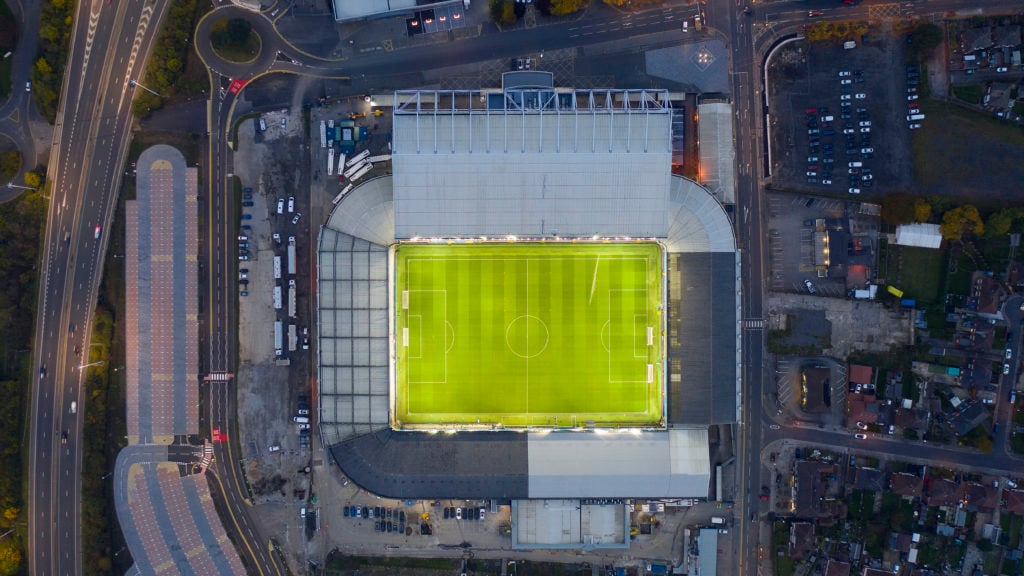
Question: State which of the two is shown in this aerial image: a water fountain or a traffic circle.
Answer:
traffic circle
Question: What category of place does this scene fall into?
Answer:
sports ground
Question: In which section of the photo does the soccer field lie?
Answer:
center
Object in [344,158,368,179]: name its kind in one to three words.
bus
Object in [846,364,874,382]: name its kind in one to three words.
house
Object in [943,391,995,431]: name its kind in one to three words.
house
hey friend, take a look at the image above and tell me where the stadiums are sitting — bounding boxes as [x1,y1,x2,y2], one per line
[316,70,742,499]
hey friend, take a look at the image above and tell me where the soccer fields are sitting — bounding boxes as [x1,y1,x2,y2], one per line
[396,242,662,425]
